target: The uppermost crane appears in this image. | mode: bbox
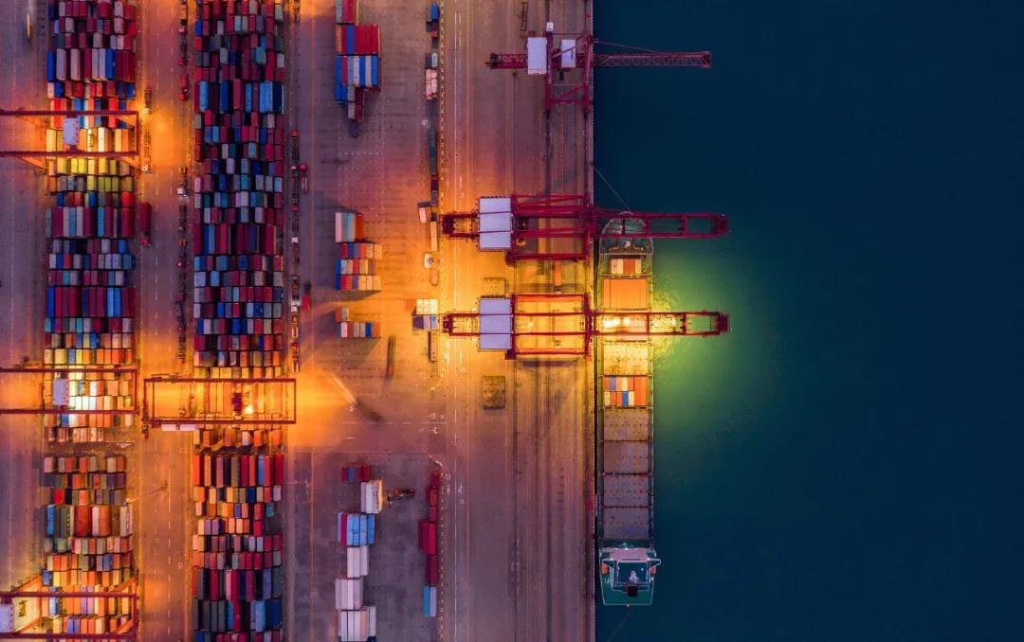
[480,21,710,119]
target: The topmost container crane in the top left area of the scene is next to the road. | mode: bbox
[0,109,149,174]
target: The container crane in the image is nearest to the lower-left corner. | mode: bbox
[0,570,146,640]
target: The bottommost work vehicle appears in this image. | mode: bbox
[385,487,414,505]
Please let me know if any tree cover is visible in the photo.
No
